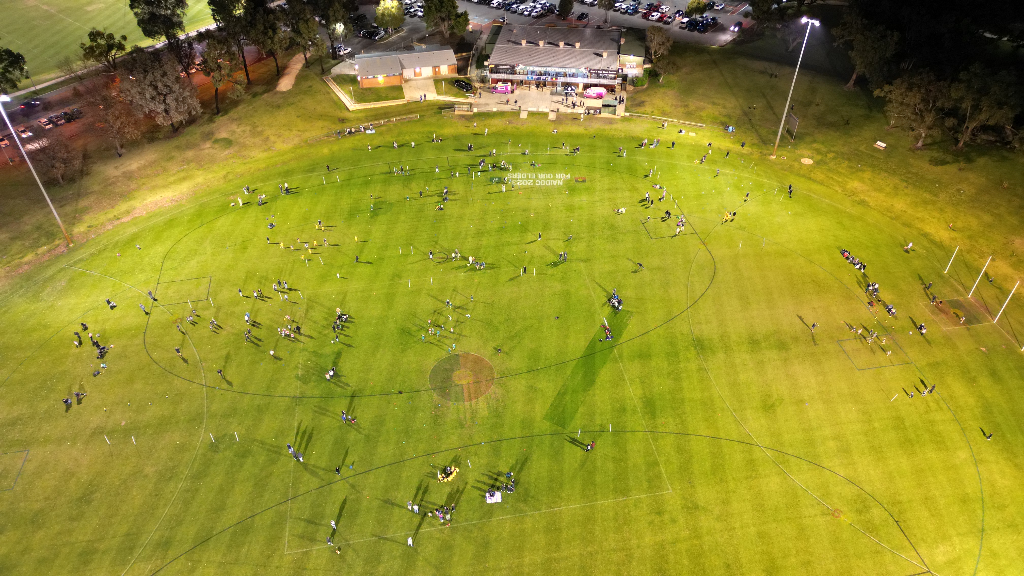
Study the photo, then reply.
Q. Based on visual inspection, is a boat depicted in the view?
No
